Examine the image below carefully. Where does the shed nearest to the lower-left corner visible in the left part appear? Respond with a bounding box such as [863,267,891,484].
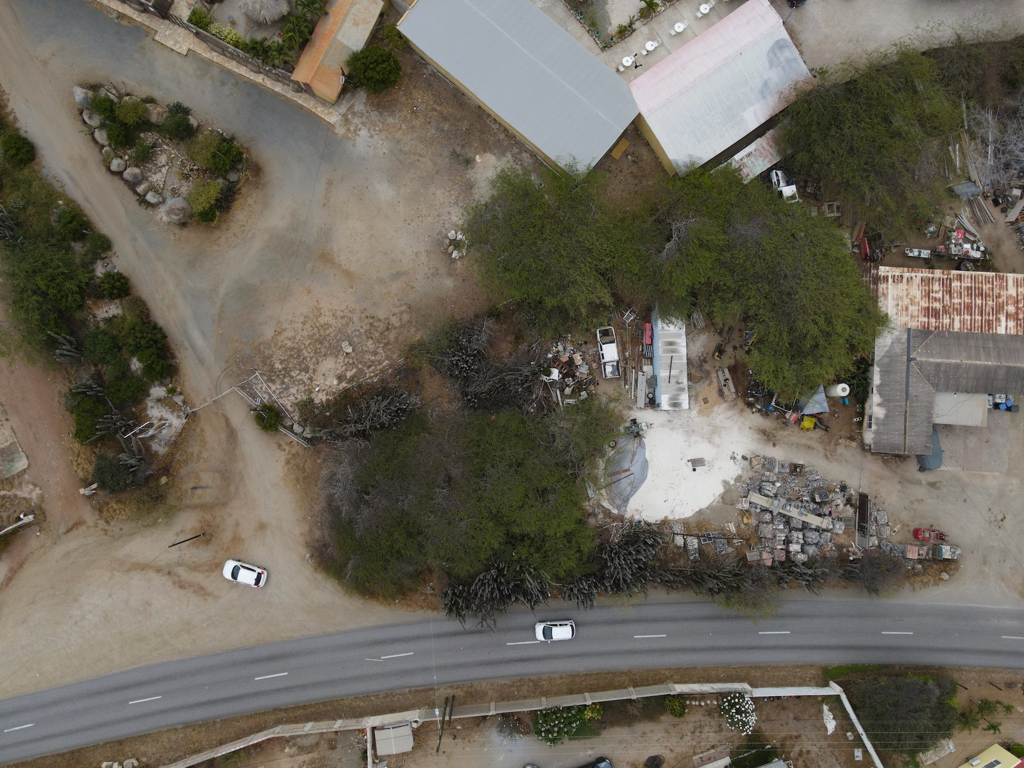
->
[375,721,416,756]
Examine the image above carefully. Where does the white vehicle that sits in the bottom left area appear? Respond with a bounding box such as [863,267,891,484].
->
[224,559,269,588]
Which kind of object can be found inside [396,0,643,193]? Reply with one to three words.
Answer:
warehouse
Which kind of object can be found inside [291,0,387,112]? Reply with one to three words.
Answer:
shed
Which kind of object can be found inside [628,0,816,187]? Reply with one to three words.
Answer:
building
